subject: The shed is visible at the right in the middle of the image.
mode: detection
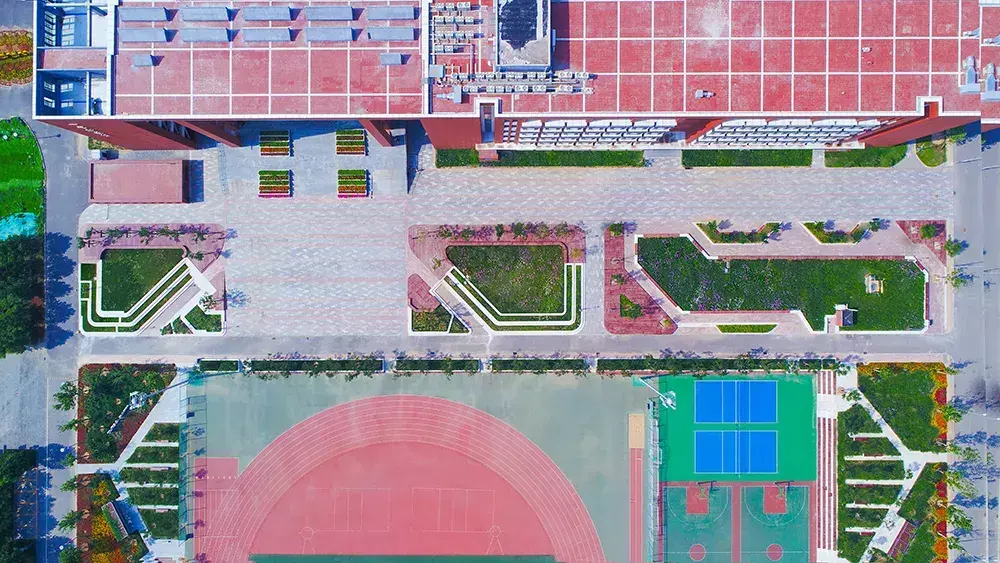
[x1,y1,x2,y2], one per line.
[834,305,858,326]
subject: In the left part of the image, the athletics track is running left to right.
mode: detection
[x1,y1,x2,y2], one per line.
[194,394,604,563]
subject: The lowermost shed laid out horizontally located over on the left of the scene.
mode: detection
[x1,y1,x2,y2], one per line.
[89,160,189,205]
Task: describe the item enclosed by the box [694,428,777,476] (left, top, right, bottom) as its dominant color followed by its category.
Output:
blue sports court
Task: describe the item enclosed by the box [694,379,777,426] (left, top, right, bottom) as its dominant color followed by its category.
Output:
blue sports court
